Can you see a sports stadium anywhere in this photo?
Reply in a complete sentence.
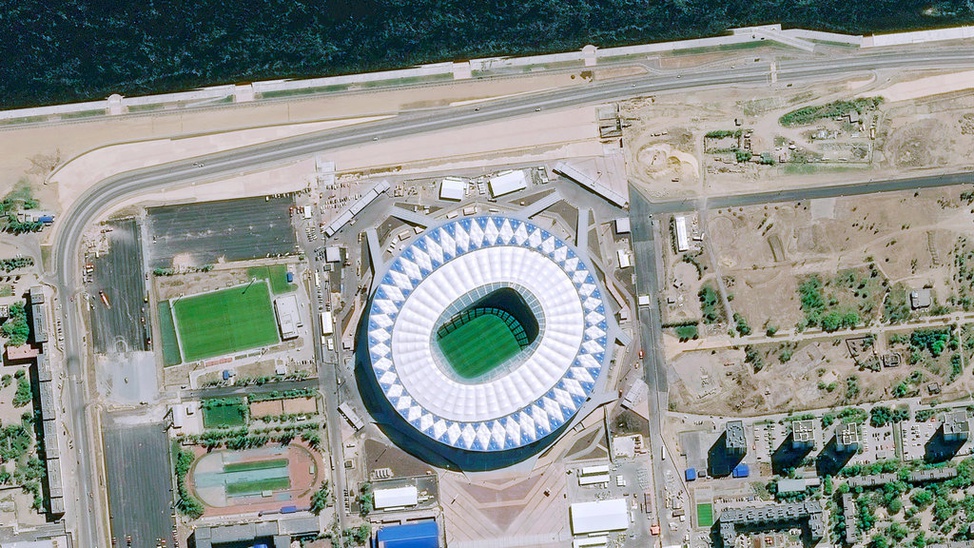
Yes, you can see a sports stadium in this photo.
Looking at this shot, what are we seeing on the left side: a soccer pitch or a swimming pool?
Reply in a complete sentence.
What appears on the left side is a soccer pitch.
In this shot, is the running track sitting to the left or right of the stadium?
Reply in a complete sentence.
You can see the running track positioned to the left of the stadium.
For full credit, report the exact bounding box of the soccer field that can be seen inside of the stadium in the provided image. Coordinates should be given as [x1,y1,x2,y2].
[435,292,540,383]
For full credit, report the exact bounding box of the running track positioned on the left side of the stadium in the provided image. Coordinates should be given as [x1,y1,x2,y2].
[185,441,326,518]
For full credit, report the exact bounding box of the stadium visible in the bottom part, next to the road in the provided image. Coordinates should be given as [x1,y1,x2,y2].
[356,213,618,481]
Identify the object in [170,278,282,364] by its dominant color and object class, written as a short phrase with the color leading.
green soccer field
